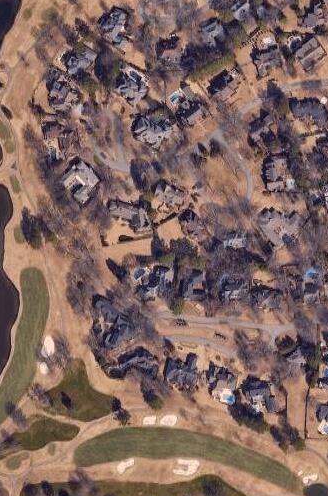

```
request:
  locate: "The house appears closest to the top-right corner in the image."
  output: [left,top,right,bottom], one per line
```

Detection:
[303,1,328,36]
